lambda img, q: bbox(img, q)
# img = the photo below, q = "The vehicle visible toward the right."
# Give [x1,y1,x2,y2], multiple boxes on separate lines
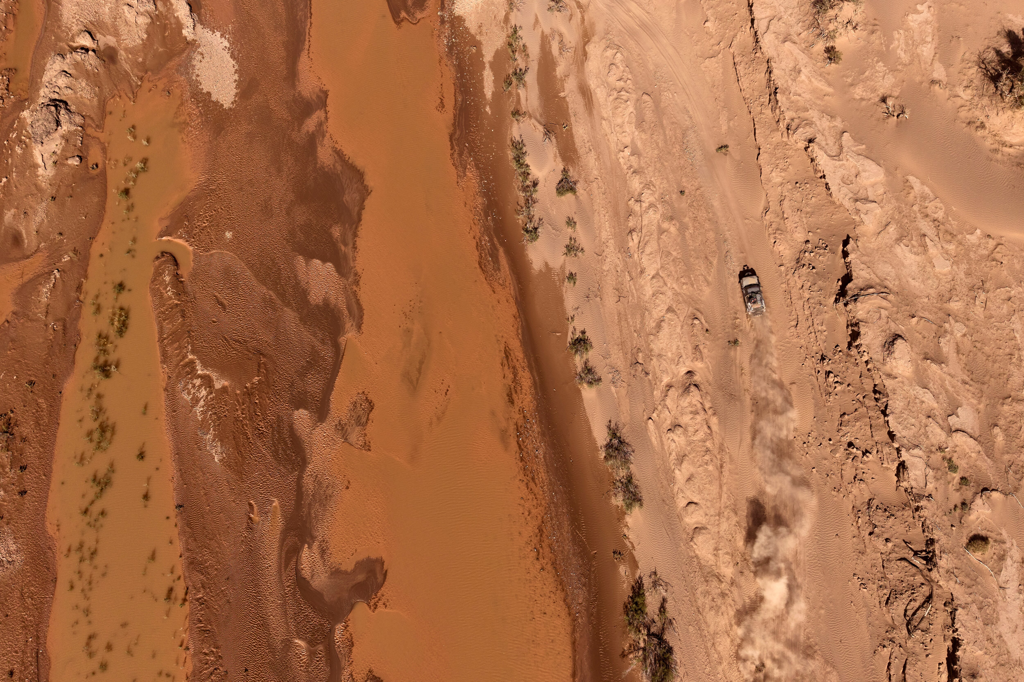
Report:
[738,274,765,318]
